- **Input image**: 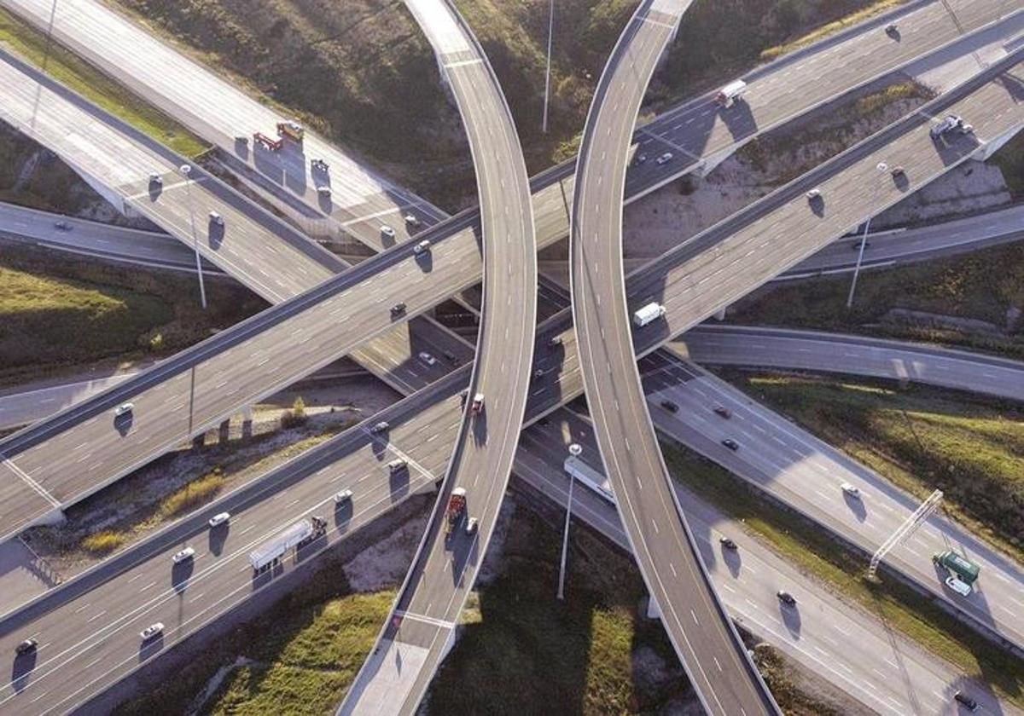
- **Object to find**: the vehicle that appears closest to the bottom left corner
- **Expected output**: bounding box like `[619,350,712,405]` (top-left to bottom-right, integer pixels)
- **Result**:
[11,637,40,657]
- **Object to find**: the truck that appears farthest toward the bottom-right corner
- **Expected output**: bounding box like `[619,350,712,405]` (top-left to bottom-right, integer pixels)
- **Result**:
[949,688,981,713]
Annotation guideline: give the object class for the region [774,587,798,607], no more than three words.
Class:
car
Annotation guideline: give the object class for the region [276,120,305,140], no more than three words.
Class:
vehicle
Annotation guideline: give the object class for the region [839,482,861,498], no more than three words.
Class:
car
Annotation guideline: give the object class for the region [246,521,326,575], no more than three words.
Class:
truck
